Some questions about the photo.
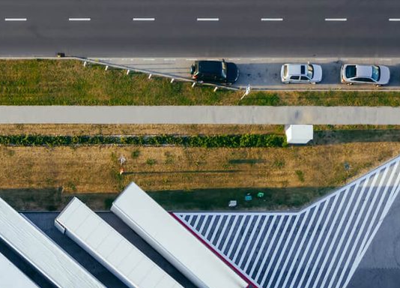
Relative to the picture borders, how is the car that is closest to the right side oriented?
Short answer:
from side to side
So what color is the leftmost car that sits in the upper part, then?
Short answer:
black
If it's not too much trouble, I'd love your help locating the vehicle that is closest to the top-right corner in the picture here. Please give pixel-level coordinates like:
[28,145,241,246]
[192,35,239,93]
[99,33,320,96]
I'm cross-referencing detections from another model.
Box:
[337,60,388,85]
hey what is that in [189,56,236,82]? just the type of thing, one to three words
car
